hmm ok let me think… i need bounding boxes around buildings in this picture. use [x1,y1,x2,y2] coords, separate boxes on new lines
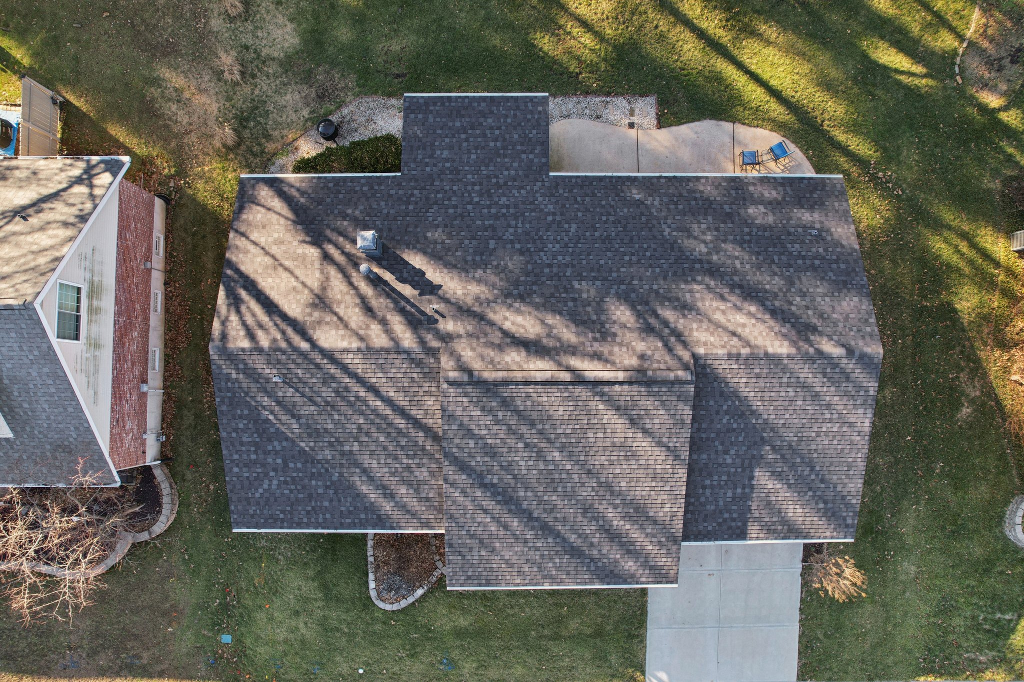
[0,152,178,490]
[209,92,883,592]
